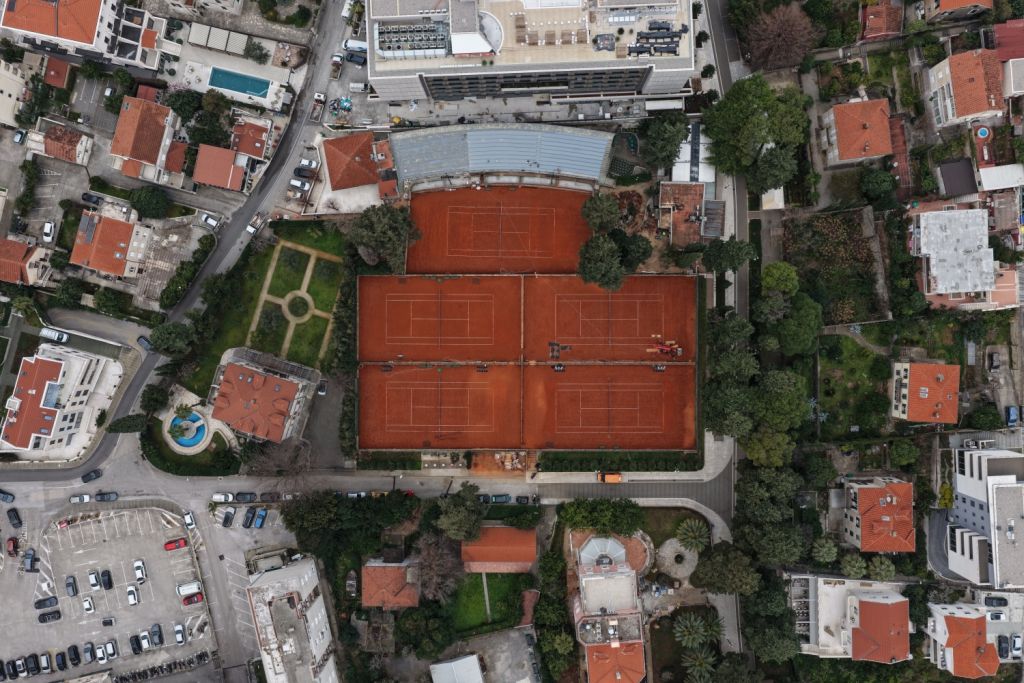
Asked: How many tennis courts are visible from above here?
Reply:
5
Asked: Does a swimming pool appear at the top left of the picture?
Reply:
Yes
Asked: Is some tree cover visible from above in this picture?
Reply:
Yes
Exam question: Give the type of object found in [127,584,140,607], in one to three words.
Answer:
vehicle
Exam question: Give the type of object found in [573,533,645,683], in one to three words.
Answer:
house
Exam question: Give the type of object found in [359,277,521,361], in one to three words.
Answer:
tennis court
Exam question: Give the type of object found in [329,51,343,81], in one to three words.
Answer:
vehicle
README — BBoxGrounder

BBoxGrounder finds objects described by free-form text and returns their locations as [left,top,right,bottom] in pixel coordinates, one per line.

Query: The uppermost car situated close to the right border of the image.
[988,352,1000,371]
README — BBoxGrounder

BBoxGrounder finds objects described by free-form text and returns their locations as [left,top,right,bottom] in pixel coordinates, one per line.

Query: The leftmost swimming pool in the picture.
[167,410,208,451]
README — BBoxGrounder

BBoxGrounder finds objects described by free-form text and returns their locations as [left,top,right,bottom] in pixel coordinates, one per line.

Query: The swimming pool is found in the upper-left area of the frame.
[207,65,272,100]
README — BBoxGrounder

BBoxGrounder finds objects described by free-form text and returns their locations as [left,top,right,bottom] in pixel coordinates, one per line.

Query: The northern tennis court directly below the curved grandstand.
[406,186,593,272]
